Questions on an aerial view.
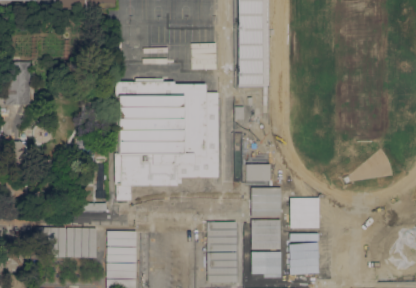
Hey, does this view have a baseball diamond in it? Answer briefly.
Yes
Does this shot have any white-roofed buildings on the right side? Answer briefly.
Yes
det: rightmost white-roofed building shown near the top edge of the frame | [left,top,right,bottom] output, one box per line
[240,0,270,112]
